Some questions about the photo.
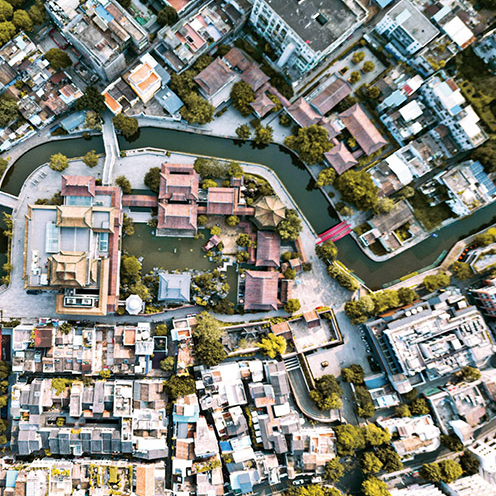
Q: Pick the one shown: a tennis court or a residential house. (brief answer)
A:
residential house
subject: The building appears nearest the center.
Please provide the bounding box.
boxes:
[252,231,280,267]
